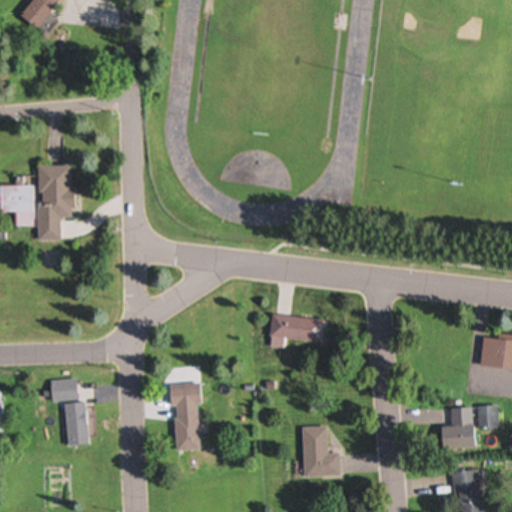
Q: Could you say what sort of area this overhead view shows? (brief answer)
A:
sports ground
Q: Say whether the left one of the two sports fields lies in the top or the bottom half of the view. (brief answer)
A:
top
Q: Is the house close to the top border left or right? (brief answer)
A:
left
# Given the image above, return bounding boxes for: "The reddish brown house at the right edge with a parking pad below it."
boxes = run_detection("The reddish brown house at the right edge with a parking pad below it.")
[482,334,512,368]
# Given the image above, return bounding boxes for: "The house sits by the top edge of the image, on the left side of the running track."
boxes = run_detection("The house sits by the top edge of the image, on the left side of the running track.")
[22,0,62,32]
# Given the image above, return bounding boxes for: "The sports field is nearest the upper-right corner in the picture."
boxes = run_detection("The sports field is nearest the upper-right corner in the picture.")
[362,0,512,234]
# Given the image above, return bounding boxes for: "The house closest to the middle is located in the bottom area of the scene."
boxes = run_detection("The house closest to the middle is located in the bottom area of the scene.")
[270,314,324,348]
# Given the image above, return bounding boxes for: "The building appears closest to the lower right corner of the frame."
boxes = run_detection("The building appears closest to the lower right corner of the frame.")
[454,469,485,512]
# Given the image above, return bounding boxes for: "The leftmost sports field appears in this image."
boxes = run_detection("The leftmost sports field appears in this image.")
[187,0,352,202]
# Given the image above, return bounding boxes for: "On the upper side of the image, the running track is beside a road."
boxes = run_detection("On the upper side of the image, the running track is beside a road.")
[166,0,374,226]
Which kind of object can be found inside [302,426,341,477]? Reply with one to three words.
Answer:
house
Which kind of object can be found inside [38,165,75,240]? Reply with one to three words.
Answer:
house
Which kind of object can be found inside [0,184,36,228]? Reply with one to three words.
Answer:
building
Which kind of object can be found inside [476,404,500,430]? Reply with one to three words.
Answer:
building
